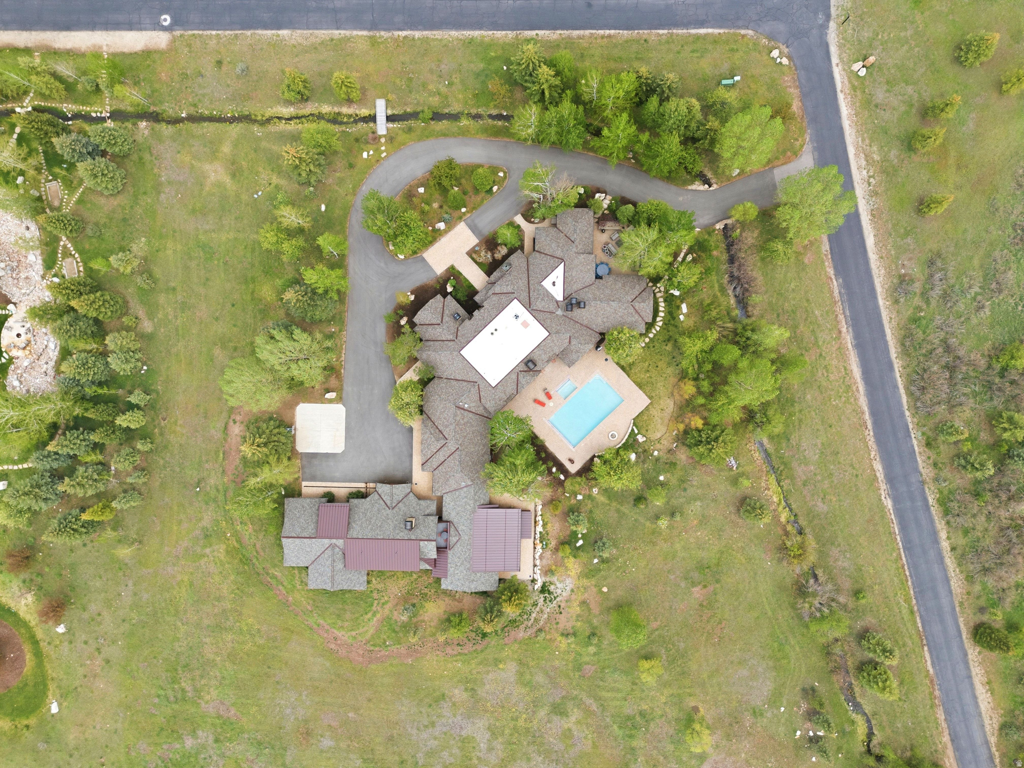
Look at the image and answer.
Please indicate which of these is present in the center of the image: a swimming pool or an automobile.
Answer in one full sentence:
It is a swimming pool that can be seen in the center of the image.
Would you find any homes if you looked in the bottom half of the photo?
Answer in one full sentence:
Yes, in the bottom half of the photo there is a home.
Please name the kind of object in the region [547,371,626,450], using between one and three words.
swimming pool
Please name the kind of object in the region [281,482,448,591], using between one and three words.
house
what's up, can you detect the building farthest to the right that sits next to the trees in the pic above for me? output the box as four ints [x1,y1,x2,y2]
[412,208,653,592]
